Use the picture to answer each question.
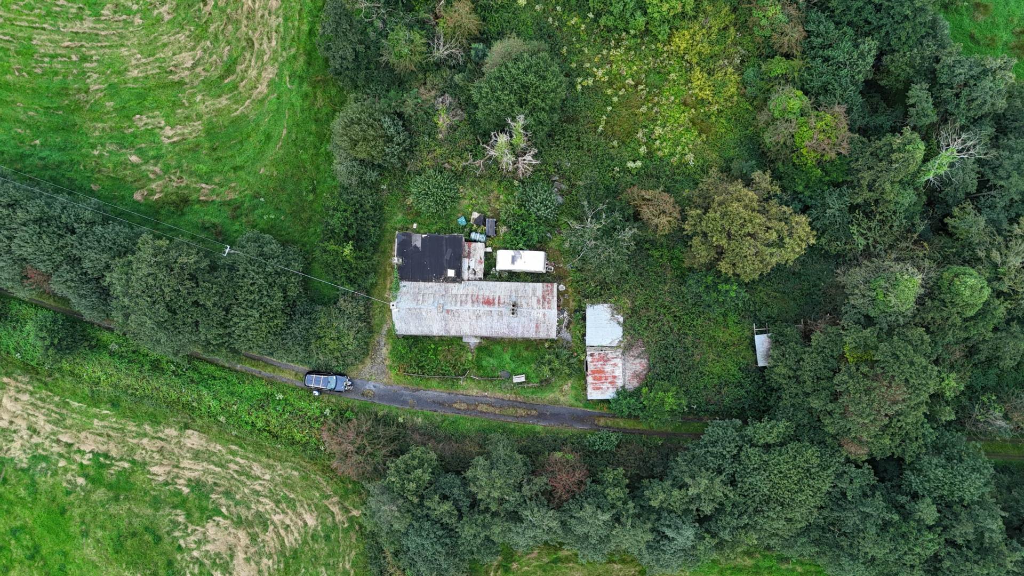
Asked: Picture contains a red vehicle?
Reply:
No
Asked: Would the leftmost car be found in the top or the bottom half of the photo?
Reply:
bottom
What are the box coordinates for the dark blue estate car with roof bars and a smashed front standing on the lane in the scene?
[302,372,349,396]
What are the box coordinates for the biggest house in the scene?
[388,232,558,343]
